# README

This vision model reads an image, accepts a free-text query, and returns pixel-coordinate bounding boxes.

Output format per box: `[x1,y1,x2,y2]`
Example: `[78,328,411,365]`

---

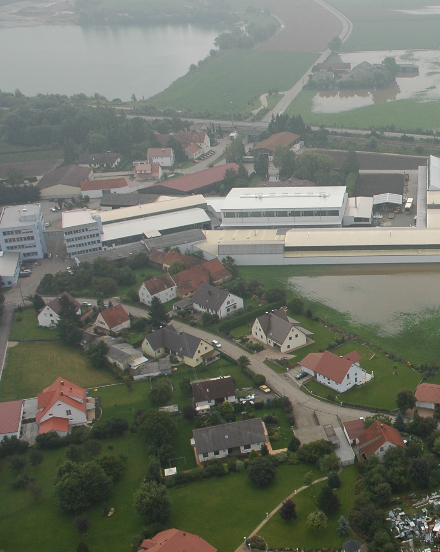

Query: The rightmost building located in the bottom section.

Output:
[415,386,440,410]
